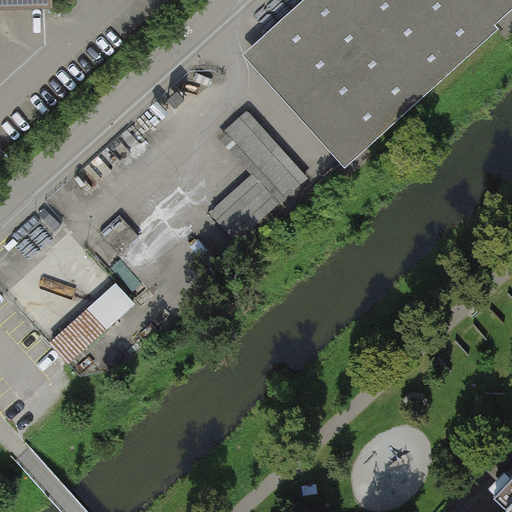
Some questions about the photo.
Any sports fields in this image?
No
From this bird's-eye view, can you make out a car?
Yes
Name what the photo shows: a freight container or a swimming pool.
freight container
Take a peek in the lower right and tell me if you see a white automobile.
No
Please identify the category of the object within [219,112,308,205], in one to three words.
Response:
shed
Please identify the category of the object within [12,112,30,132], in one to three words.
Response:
vehicle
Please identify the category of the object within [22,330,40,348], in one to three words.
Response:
car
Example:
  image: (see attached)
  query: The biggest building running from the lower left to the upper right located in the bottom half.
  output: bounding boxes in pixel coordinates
[50,283,134,364]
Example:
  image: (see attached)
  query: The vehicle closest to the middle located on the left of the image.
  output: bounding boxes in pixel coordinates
[188,236,208,258]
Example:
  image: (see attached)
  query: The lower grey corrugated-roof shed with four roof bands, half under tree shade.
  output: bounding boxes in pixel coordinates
[208,174,282,242]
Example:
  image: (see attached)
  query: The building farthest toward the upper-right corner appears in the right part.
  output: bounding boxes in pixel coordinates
[244,0,512,168]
